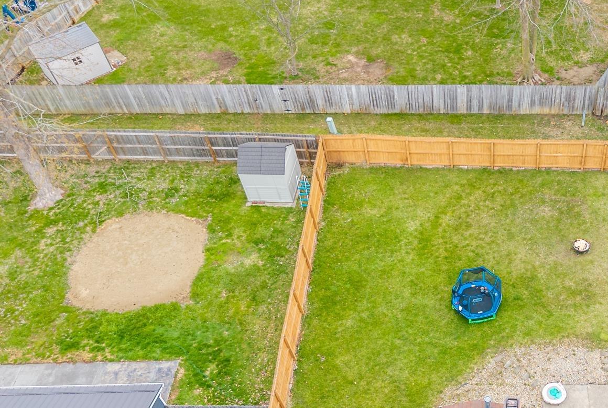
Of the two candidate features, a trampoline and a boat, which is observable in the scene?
trampoline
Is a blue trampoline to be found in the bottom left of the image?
No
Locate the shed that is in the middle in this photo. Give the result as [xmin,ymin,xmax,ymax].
[233,146,304,207]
